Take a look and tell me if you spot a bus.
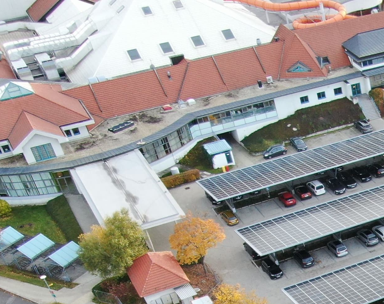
No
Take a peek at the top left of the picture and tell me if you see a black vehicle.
No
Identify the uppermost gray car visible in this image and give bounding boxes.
[354,122,374,135]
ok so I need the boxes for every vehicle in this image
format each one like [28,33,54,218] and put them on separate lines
[351,165,372,182]
[204,193,221,208]
[261,256,284,280]
[233,193,249,205]
[278,193,298,208]
[332,165,348,175]
[354,122,374,135]
[337,174,357,190]
[306,181,327,198]
[263,144,289,158]
[249,189,265,200]
[326,179,347,196]
[289,137,310,151]
[367,163,384,179]
[221,212,240,228]
[371,227,384,245]
[356,231,381,249]
[246,247,266,266]
[294,188,314,203]
[327,241,349,260]
[293,250,317,270]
